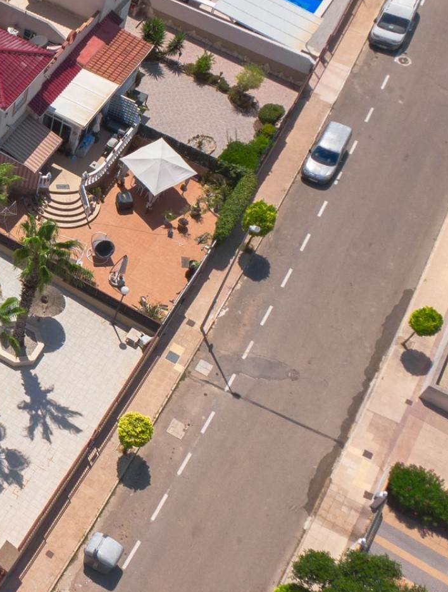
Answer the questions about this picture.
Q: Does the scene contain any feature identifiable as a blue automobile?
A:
No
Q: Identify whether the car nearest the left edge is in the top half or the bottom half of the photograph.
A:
top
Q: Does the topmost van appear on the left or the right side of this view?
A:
right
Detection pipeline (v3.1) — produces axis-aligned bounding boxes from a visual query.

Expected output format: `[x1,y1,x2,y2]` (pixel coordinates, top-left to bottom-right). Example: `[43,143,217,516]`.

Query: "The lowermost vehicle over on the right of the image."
[300,117,361,189]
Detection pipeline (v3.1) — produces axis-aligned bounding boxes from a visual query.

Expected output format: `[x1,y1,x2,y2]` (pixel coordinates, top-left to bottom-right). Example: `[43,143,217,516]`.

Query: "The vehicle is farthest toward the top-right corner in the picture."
[370,0,428,52]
